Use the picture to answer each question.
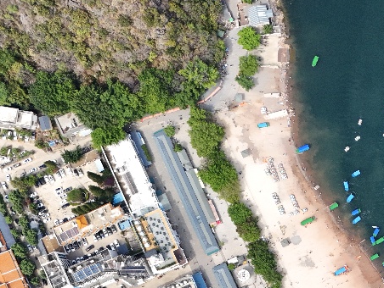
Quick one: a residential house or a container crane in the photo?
residential house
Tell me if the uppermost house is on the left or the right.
right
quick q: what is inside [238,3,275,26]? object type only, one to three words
house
